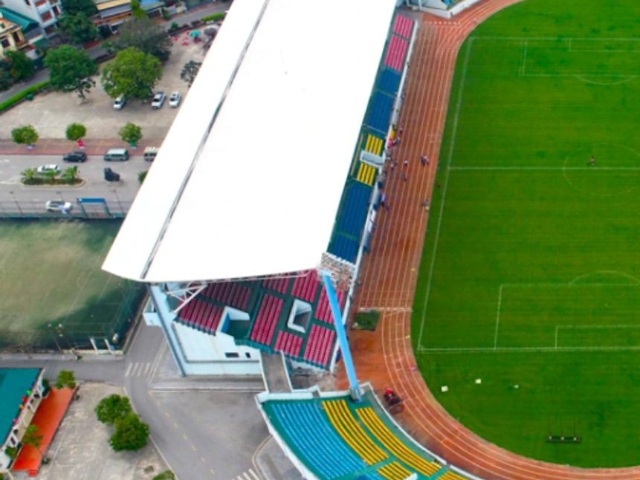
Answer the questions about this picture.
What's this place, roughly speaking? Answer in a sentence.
The area seen from above is a sports ground.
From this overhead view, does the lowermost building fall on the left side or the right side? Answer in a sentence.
It is on the left.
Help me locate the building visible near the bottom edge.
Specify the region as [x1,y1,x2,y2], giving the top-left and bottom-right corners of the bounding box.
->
[0,357,44,464]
